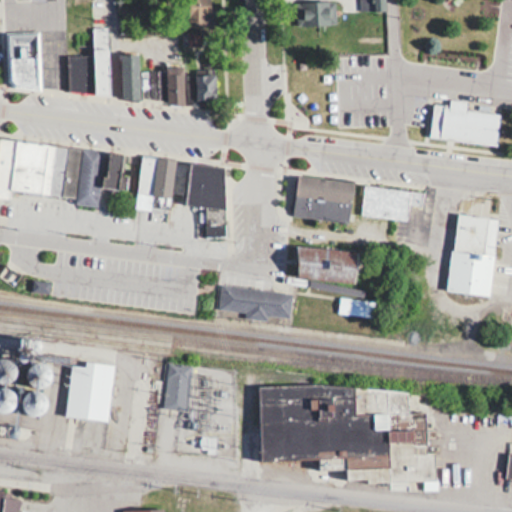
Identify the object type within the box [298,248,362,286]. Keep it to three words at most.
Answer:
barn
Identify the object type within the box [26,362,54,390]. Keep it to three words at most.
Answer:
silo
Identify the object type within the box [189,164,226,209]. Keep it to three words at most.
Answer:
building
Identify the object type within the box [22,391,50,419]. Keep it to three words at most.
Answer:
silo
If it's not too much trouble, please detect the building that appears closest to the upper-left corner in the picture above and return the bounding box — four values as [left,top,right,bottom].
[7,32,42,90]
